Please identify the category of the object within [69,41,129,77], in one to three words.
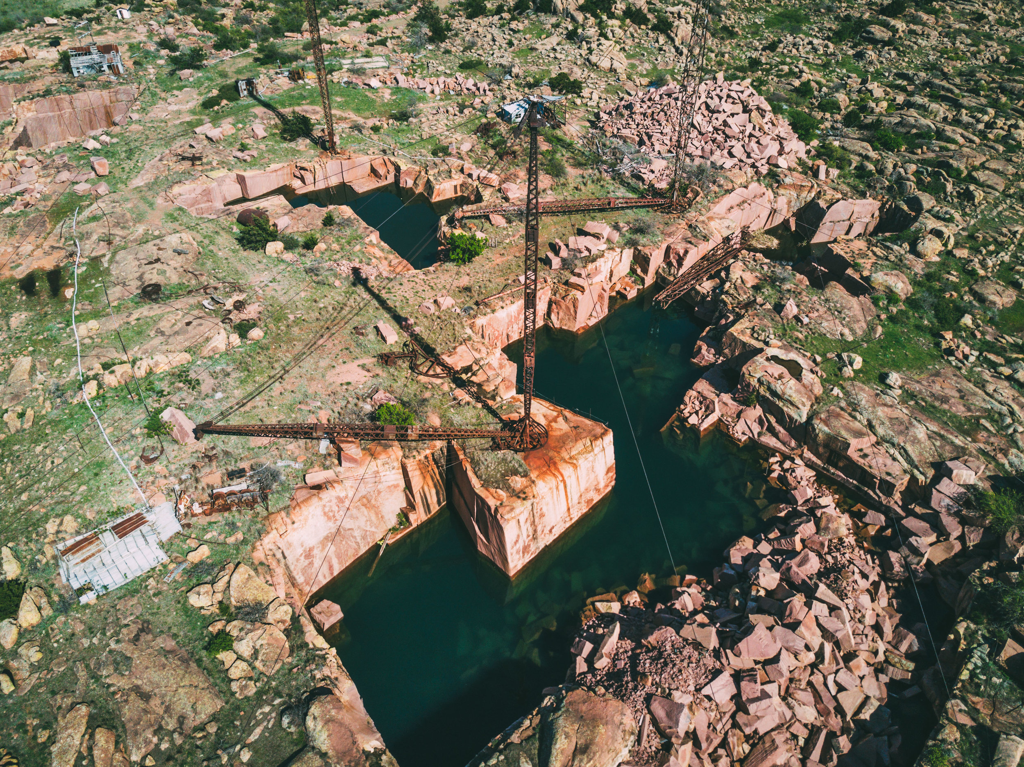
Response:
shed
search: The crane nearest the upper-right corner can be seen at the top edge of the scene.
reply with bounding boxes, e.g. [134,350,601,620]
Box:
[454,0,712,231]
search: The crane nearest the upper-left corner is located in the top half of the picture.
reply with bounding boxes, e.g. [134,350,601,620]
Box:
[303,0,343,154]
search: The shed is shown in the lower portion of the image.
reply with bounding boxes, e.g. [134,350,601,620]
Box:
[55,505,167,602]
